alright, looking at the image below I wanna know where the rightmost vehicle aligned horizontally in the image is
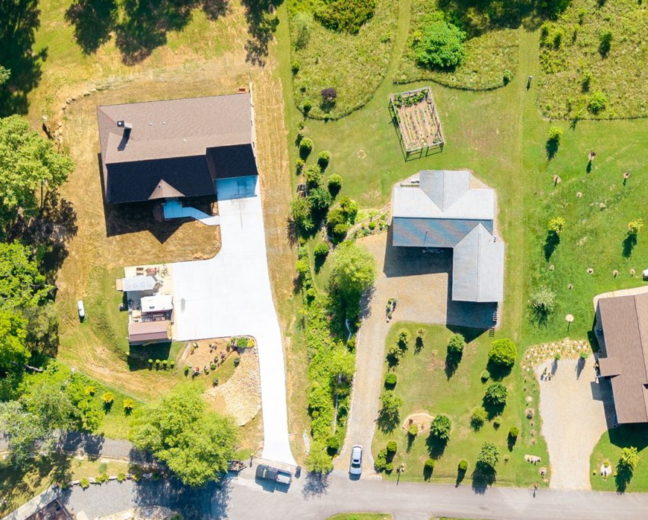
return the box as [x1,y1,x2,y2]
[254,468,291,487]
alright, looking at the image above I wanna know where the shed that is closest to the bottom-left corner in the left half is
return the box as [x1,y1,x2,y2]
[129,320,173,342]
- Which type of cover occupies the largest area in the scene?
grass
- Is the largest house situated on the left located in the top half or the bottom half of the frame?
top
